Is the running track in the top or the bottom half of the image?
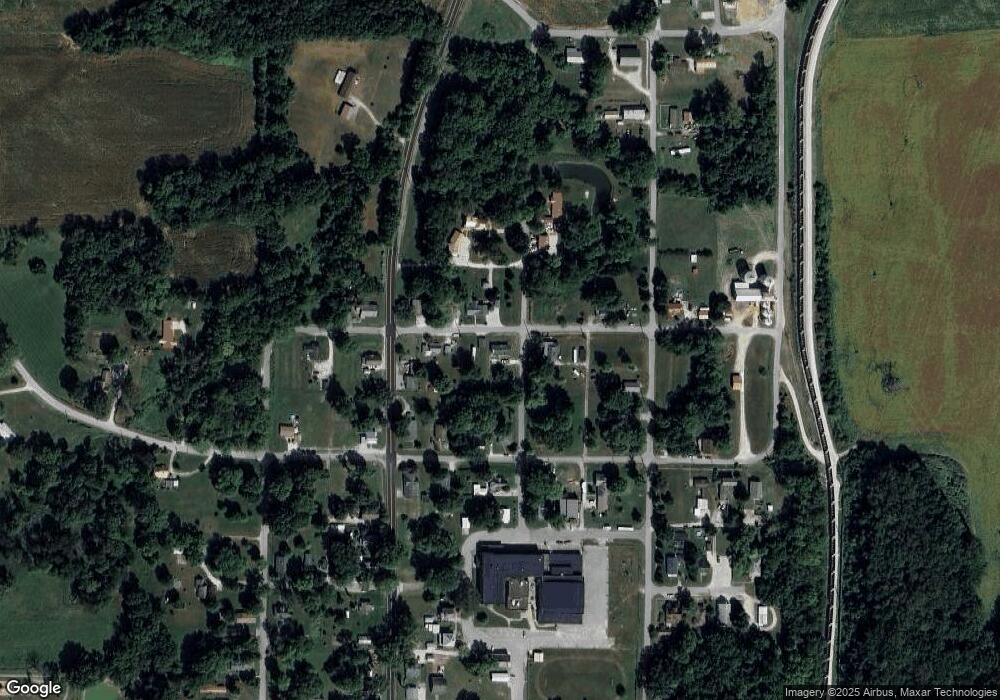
bottom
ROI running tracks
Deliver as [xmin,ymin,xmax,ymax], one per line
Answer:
[538,656,628,700]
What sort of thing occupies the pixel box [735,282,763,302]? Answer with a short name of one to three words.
barn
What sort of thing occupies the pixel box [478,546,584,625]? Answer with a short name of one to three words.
building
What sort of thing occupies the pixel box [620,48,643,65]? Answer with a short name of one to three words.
building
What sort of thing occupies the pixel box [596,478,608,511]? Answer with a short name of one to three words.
house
